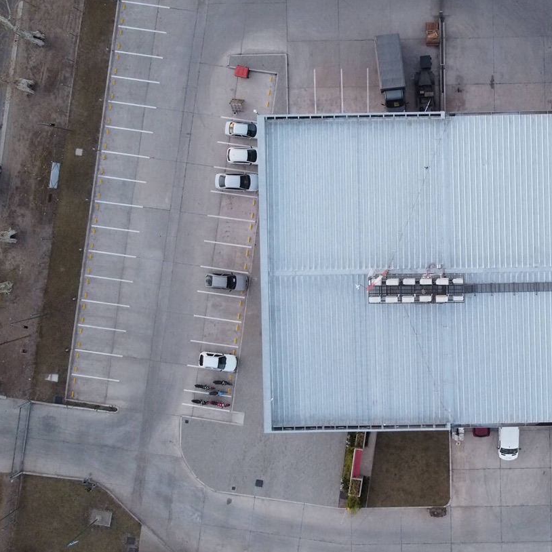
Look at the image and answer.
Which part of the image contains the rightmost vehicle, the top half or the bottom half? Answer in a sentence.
The rightmost vehicle sits in the bottom half of the picture.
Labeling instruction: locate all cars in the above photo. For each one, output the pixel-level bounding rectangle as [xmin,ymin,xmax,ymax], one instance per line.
[213,172,257,193]
[203,273,247,293]
[197,353,236,374]
[473,429,492,439]
[222,120,256,140]
[225,146,257,166]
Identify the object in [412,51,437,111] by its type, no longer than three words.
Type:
work vehicle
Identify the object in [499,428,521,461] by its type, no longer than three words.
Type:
vehicle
